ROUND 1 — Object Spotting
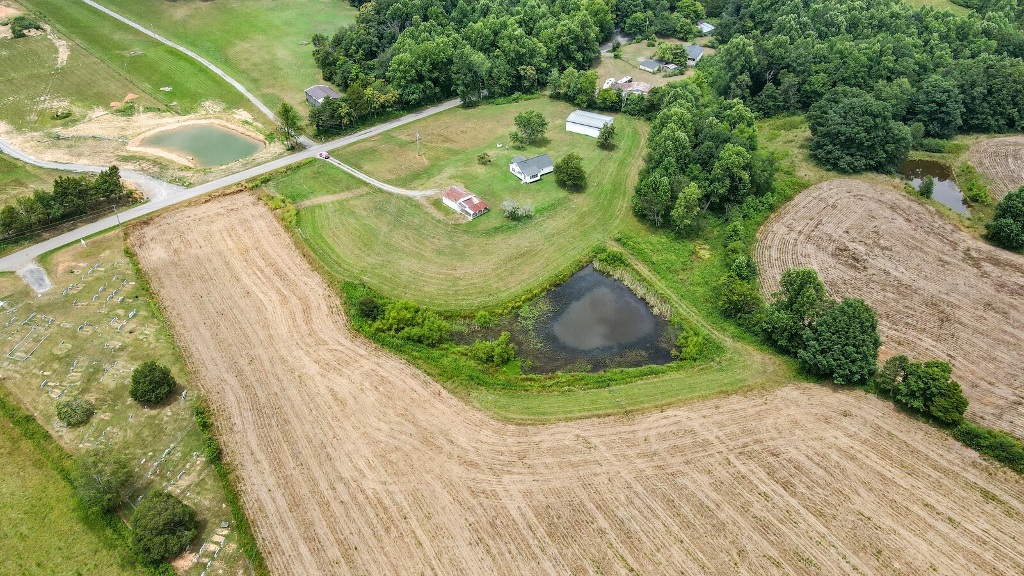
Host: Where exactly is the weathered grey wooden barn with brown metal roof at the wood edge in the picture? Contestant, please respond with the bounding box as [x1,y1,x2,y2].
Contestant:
[303,84,340,110]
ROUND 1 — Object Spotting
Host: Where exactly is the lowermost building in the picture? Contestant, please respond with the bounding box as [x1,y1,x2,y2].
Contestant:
[438,184,492,220]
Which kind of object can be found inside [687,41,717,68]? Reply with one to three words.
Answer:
house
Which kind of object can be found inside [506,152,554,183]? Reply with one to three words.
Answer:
house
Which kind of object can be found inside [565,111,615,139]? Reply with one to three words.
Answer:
barn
